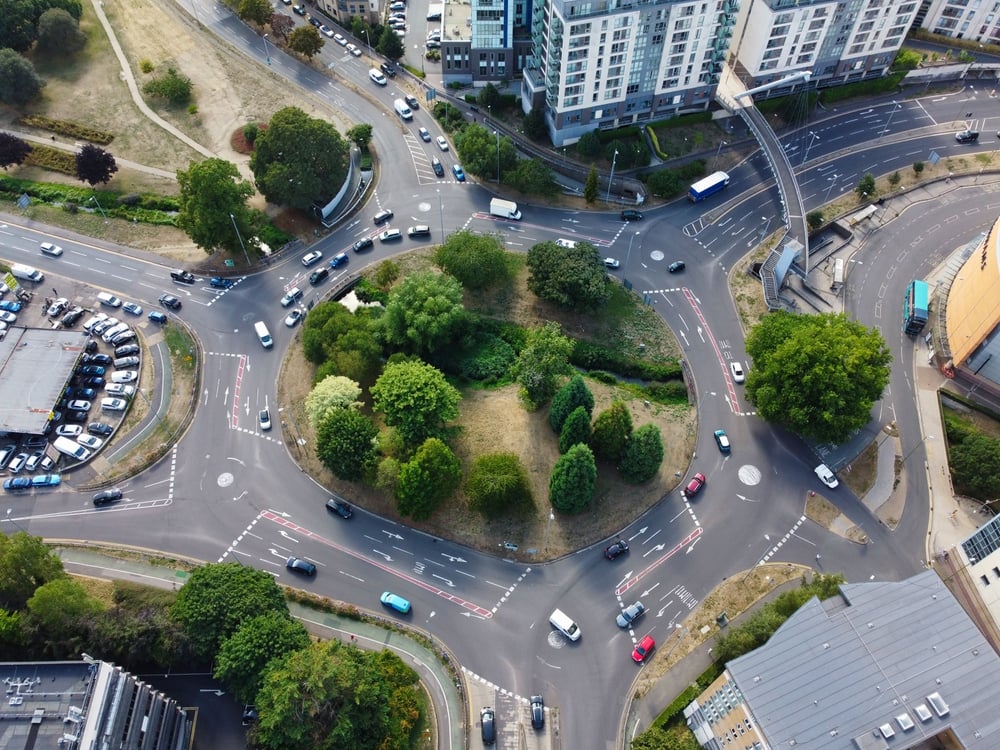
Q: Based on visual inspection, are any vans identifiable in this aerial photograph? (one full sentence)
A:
Yes, a van appears in the view.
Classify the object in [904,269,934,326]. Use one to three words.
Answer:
bus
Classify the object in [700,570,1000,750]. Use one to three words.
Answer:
building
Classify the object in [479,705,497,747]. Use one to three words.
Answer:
car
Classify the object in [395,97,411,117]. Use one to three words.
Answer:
vehicle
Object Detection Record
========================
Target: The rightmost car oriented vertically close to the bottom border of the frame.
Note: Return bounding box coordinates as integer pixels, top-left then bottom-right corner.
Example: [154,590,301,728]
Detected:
[528,693,546,733]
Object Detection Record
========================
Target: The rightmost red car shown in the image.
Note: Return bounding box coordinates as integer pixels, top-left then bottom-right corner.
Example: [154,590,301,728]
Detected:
[685,474,707,498]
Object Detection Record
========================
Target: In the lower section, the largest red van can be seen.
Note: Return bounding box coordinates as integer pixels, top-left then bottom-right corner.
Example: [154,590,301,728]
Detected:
[628,631,659,664]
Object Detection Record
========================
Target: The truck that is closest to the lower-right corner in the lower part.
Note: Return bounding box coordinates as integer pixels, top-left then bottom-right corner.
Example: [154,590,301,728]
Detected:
[812,459,843,491]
